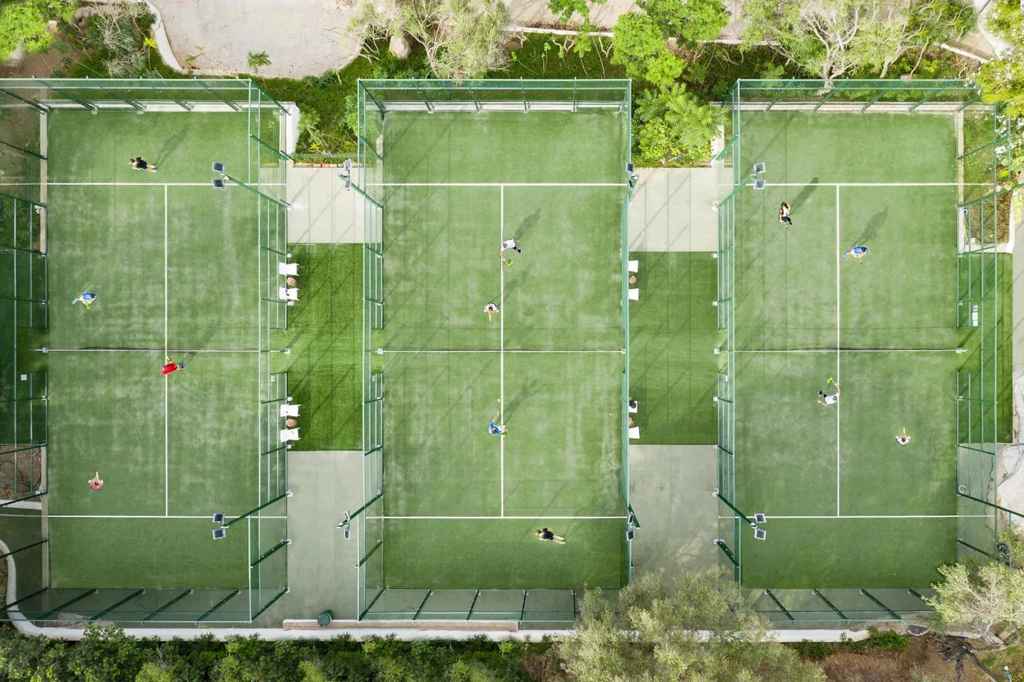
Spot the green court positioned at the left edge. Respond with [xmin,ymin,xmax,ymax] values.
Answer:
[47,110,287,589]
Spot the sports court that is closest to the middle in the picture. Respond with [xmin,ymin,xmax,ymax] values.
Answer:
[382,110,623,589]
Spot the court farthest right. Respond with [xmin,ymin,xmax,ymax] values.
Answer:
[718,110,958,589]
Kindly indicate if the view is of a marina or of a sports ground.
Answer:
sports ground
